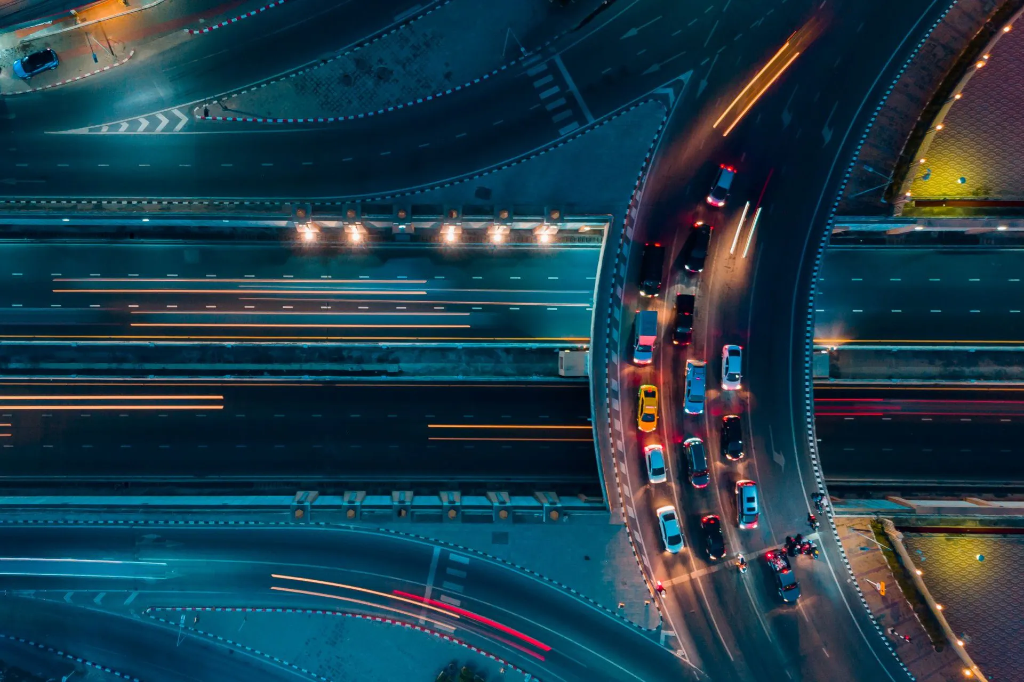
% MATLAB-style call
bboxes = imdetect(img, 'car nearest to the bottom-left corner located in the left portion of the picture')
[101,557,156,583]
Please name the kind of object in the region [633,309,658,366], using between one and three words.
truck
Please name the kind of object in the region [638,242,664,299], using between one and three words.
truck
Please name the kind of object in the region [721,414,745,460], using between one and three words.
car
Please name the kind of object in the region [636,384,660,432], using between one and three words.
car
